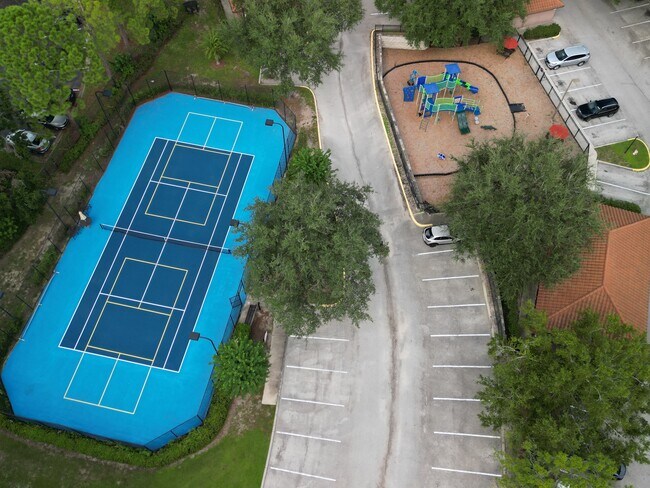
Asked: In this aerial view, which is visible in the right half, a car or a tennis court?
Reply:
car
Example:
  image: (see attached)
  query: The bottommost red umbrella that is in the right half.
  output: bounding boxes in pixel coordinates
[548,126,567,142]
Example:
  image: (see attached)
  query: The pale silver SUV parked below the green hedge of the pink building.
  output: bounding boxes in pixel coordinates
[547,46,590,70]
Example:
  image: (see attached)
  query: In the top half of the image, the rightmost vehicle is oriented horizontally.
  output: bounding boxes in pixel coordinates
[576,96,622,122]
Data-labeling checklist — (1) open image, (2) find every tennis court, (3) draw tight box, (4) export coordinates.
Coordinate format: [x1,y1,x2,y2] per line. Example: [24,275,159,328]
[2,92,295,452]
